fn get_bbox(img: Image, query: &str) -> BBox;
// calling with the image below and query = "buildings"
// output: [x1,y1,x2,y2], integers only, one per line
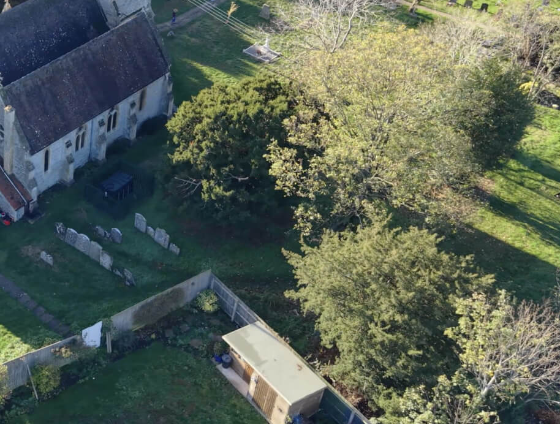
[221,318,332,424]
[0,0,176,222]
